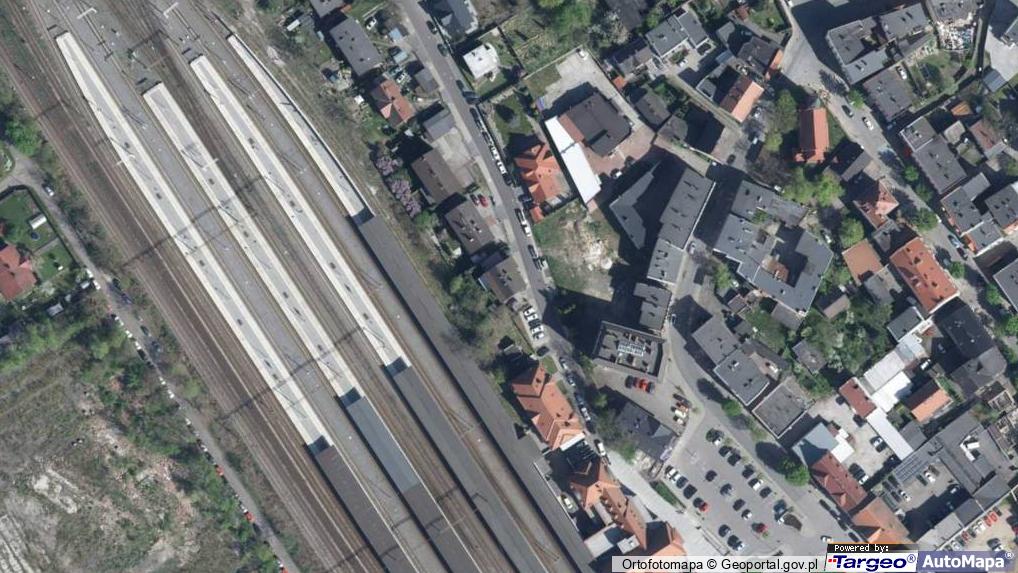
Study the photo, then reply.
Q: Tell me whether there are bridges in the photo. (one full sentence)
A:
No, I find no bridge anywhere in the image.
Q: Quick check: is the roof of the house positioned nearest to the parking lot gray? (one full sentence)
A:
Yes, the roof of the house positioned nearest to the parking lot appears gray.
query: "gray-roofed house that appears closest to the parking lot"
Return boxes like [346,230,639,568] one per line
[616,399,681,464]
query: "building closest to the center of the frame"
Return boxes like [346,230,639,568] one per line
[480,258,528,303]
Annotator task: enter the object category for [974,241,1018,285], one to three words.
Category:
shed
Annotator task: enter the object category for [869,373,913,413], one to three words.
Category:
building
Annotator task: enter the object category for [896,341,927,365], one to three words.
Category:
greenhouse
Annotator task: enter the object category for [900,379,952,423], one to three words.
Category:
house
